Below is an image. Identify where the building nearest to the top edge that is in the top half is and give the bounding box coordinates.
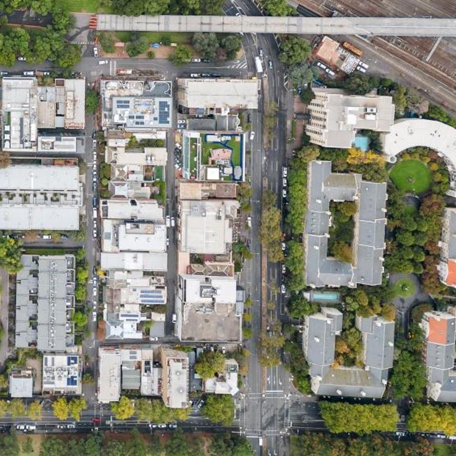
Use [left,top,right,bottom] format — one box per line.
[312,36,359,72]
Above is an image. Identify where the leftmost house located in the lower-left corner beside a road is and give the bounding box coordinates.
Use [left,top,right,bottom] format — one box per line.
[9,367,33,398]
